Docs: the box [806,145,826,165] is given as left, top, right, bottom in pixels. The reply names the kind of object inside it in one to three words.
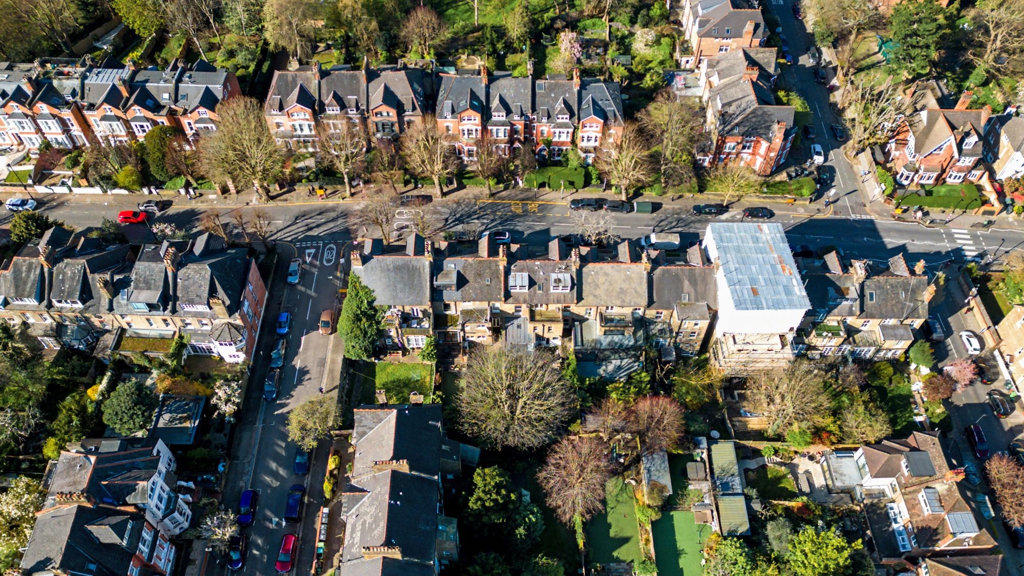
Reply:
car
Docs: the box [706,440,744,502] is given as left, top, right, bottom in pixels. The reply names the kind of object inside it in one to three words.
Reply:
shed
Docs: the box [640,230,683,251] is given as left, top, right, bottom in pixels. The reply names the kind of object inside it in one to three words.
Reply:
vehicle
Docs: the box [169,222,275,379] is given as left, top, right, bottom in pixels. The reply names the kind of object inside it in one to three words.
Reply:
house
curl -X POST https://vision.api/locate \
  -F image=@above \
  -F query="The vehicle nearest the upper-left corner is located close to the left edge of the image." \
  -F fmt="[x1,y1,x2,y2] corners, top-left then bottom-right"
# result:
[3,198,38,212]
